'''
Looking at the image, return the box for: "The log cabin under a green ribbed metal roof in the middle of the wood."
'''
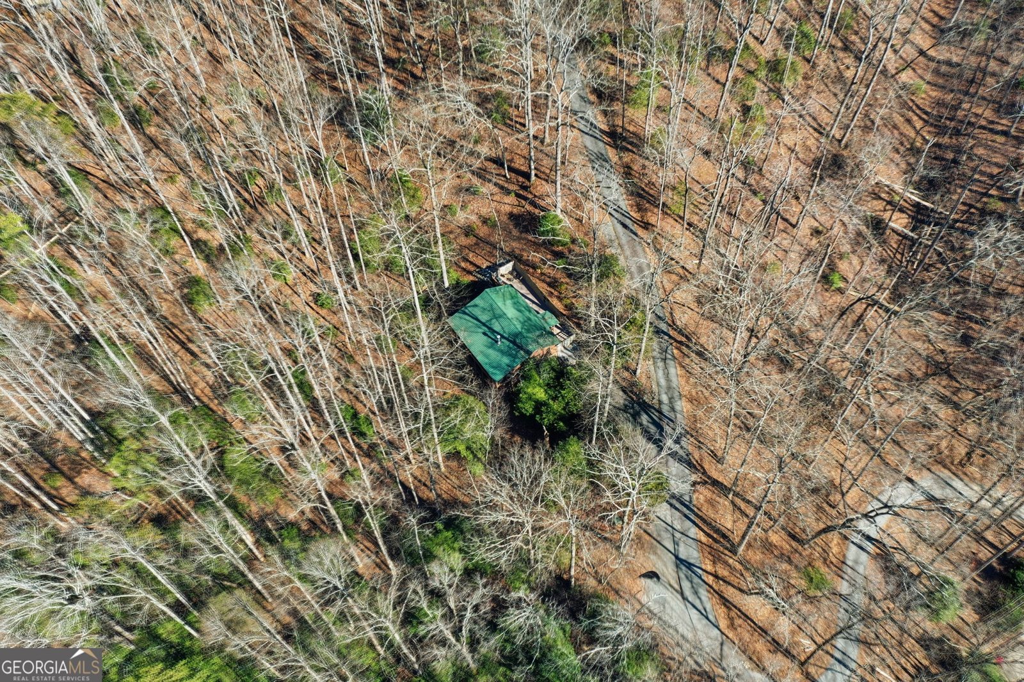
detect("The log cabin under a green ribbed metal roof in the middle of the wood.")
[448,267,577,389]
